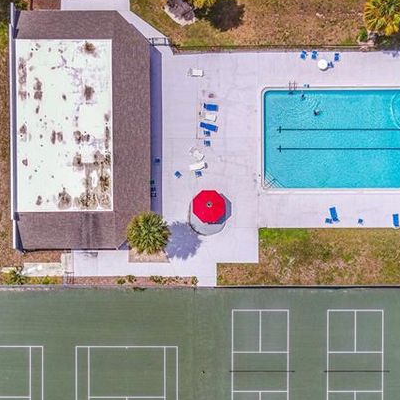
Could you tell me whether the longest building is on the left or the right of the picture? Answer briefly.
left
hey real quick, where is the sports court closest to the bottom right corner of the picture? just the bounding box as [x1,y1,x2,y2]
[324,309,391,400]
